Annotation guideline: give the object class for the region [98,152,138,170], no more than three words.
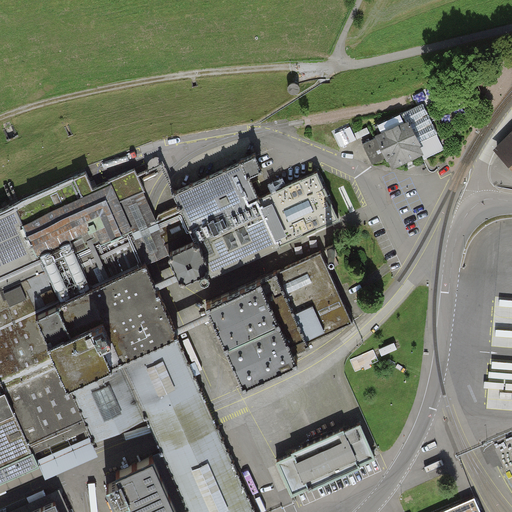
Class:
vehicle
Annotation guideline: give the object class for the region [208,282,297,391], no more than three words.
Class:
building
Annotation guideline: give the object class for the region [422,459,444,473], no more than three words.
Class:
vehicle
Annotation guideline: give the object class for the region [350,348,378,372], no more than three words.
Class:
shed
